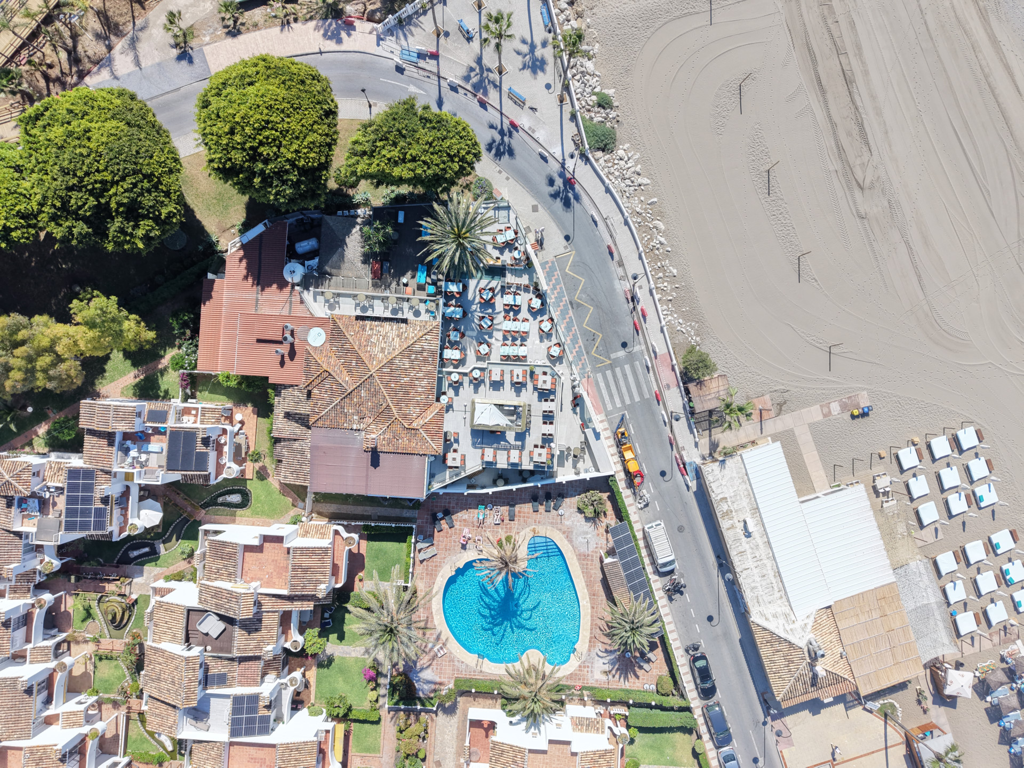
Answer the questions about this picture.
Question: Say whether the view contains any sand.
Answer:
Yes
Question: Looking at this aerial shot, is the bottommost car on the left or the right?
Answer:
right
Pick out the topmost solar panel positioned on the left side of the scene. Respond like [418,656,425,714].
[147,410,167,422]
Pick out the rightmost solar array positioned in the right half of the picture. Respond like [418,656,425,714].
[610,522,659,617]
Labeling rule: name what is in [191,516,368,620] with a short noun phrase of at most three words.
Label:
house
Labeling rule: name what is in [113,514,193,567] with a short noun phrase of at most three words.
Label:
pond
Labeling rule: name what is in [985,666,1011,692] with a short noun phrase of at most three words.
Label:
umbrella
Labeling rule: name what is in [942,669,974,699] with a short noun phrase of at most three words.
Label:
umbrella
